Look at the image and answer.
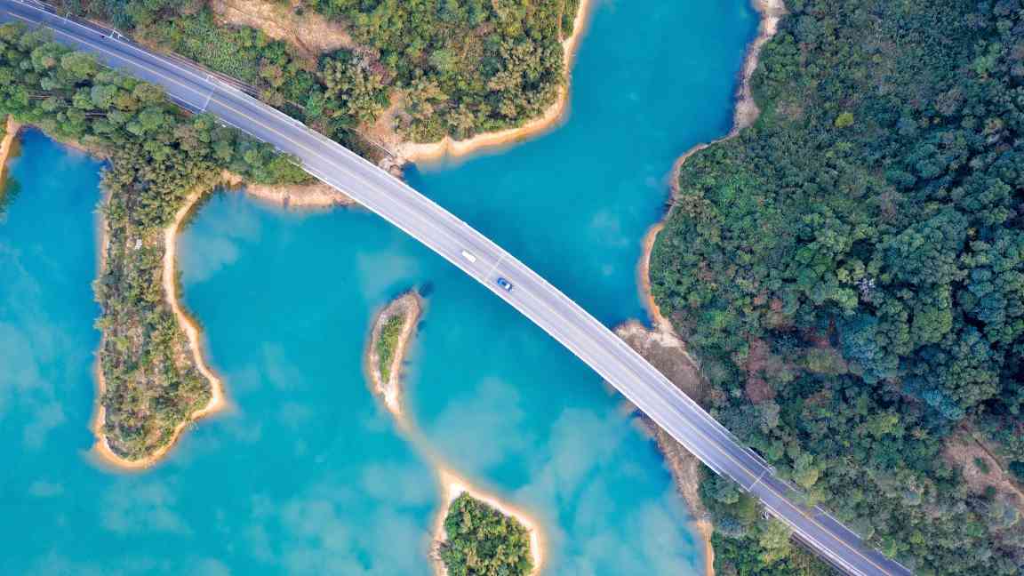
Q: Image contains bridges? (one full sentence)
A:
Yes, a bridge appears in the view.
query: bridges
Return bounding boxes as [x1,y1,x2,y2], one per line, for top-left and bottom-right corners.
[203,77,770,489]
